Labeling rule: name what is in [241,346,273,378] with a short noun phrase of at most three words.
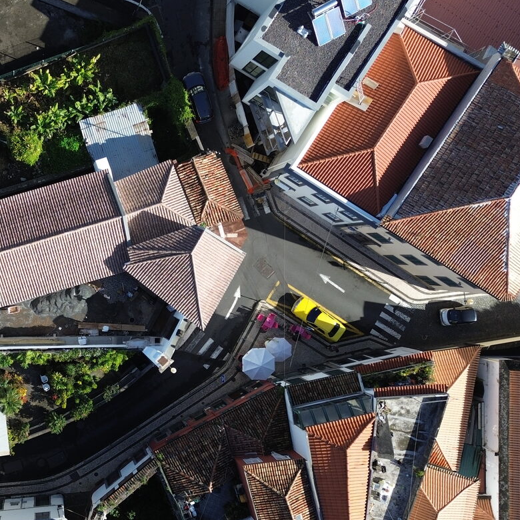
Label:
umbrella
